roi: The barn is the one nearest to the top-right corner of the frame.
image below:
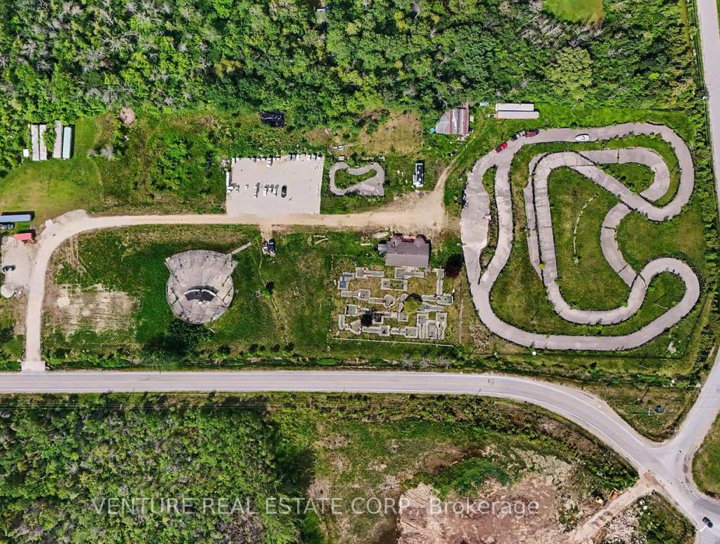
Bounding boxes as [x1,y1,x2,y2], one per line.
[436,108,468,135]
